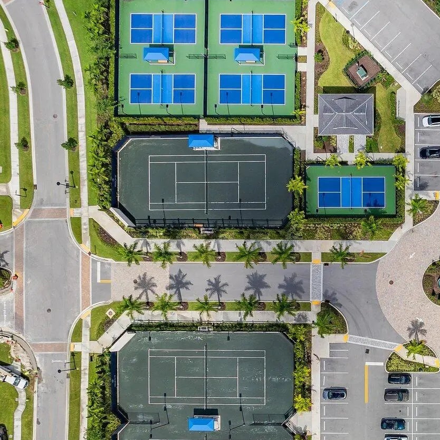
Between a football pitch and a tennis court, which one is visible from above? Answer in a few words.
tennis court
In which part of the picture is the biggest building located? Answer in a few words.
top right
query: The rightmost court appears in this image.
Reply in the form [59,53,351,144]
[306,165,396,214]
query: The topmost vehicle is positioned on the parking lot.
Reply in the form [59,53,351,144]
[422,114,440,127]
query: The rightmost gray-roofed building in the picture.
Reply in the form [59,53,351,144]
[318,93,376,137]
